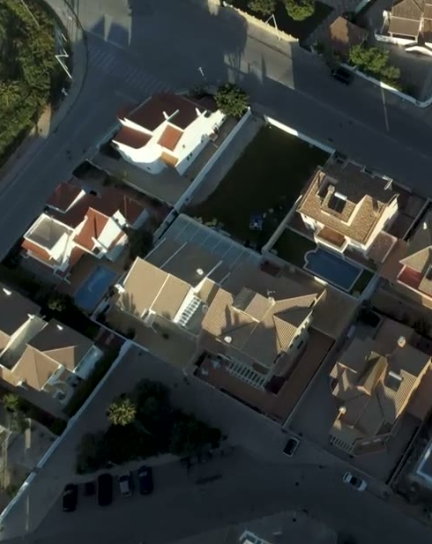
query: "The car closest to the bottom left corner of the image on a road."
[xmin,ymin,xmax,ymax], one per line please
[57,480,77,514]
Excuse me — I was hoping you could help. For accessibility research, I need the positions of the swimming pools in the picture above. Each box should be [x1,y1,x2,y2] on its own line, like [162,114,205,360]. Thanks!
[302,243,366,294]
[71,266,120,312]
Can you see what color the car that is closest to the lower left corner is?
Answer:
black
